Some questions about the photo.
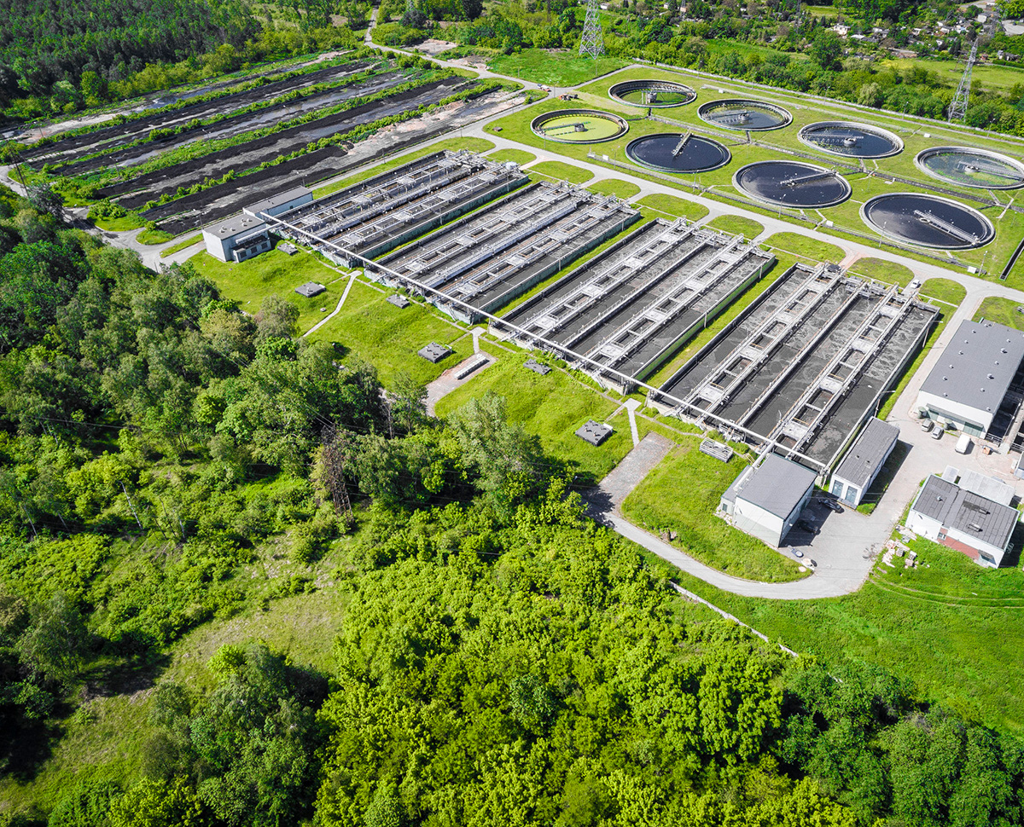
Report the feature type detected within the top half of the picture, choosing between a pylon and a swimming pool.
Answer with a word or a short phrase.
pylon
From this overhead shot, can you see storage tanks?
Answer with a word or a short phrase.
Yes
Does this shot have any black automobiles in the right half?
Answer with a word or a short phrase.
Yes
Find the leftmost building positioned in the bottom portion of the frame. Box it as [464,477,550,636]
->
[718,453,820,546]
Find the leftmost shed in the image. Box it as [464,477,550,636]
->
[201,214,269,260]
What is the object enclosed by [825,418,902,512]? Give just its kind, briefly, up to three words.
building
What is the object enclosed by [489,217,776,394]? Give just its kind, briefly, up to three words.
storage tank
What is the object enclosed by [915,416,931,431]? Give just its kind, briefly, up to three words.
car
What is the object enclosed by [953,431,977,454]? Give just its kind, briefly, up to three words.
vehicle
